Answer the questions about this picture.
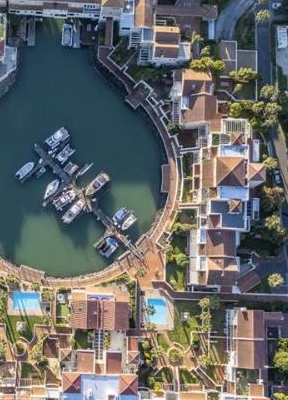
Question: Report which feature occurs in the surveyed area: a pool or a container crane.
pool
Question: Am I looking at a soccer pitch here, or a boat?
boat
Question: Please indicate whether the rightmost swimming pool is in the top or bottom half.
bottom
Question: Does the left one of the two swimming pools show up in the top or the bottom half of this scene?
bottom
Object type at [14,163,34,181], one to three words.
boat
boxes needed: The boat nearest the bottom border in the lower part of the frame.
[104,237,121,256]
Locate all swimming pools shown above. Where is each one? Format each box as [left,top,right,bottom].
[146,297,169,325]
[12,290,42,311]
